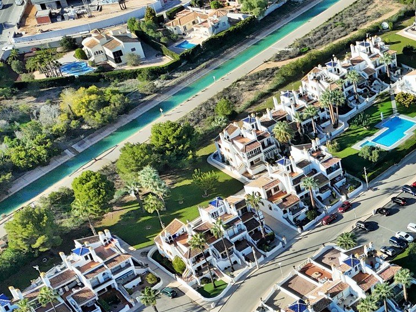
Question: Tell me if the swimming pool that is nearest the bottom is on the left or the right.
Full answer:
You can find the swimming pool that is nearest the bottom on the right side of the picture.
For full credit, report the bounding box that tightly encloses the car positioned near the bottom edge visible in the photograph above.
[158,283,177,297]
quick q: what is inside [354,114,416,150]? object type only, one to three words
swimming pool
